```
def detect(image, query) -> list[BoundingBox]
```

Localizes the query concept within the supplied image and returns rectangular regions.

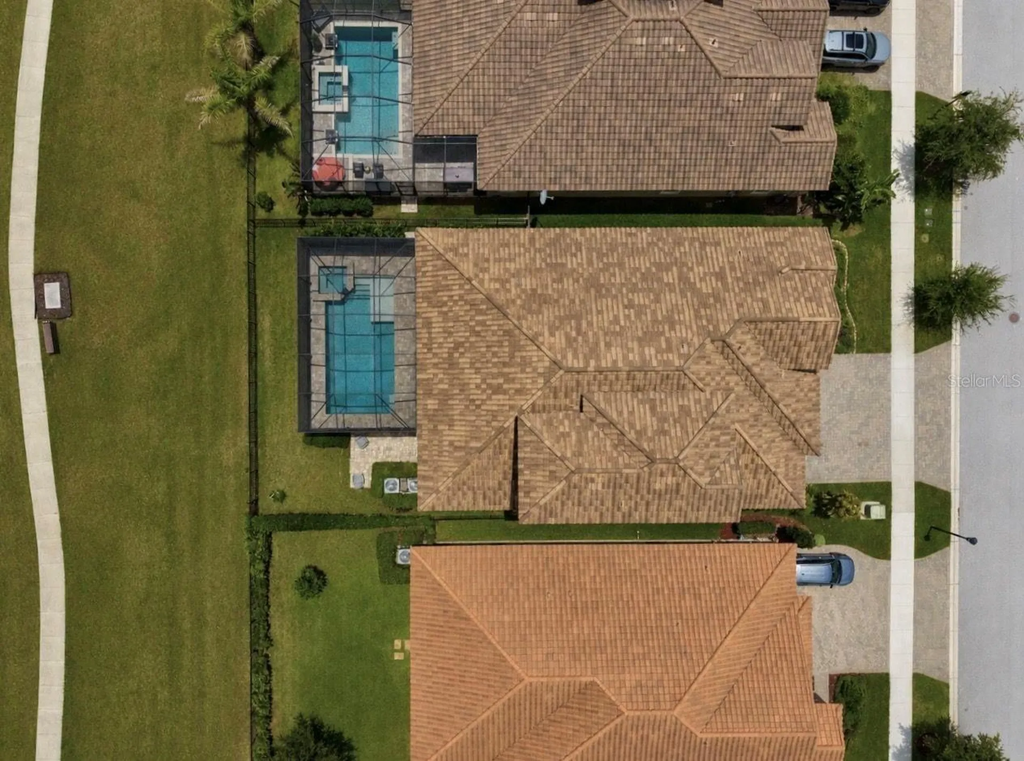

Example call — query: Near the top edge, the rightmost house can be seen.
[412,0,840,197]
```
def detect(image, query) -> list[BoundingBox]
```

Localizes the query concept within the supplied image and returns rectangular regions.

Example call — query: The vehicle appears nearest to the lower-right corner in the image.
[797,552,855,592]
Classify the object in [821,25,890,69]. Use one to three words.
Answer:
car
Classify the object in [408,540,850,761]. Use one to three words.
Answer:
house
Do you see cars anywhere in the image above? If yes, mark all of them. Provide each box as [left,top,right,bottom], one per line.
[797,552,855,592]
[821,25,890,69]
[829,0,888,15]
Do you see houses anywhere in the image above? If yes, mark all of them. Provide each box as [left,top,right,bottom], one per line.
[414,226,842,525]
[408,540,850,761]
[412,0,840,197]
